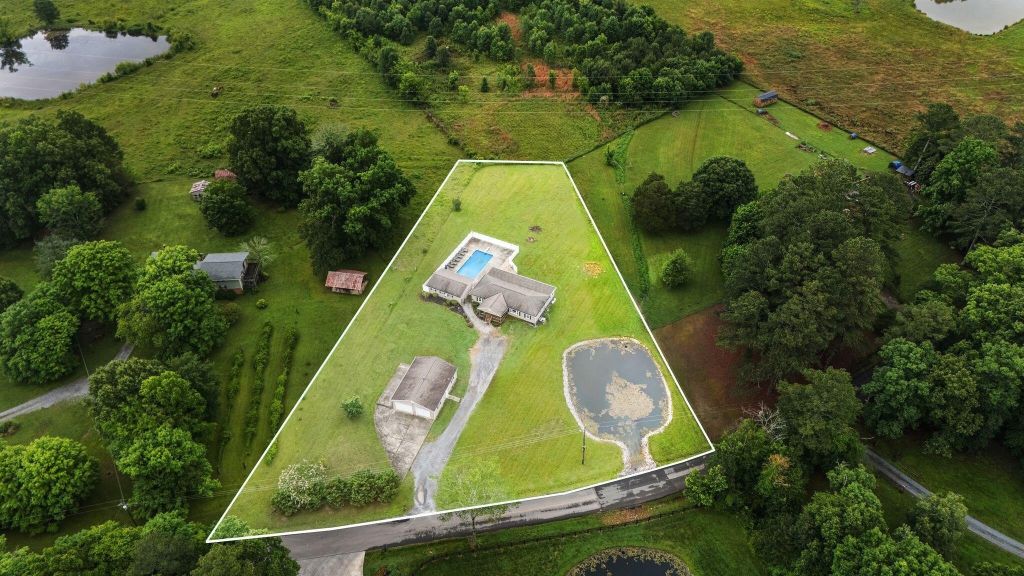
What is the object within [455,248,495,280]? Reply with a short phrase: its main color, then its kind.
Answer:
blue swimming pool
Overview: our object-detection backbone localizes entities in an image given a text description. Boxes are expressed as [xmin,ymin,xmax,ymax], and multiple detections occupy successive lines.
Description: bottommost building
[390,356,458,419]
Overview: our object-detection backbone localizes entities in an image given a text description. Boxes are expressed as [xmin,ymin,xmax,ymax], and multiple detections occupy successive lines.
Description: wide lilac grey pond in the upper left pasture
[0,27,169,98]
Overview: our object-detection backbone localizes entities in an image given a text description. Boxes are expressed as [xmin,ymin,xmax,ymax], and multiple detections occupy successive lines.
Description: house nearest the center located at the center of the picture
[425,267,557,327]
